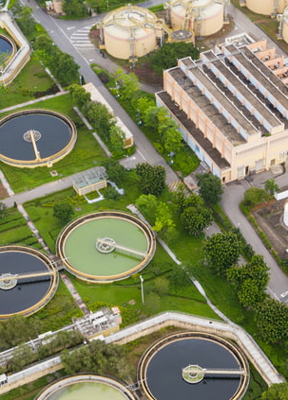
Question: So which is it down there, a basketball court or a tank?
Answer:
tank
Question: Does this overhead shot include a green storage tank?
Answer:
Yes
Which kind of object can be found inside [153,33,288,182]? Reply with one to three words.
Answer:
building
